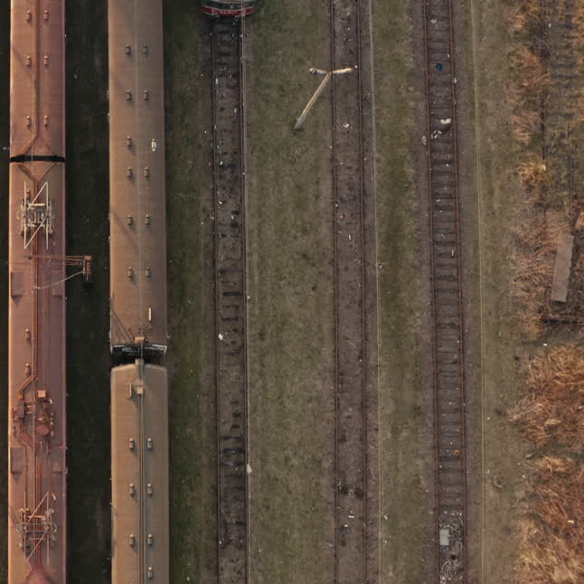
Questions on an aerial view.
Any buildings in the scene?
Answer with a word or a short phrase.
No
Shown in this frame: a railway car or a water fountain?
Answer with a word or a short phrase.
railway car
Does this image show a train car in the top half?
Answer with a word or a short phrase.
Yes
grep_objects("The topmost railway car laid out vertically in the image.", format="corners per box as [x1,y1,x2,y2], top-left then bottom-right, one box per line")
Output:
[11,0,66,165]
